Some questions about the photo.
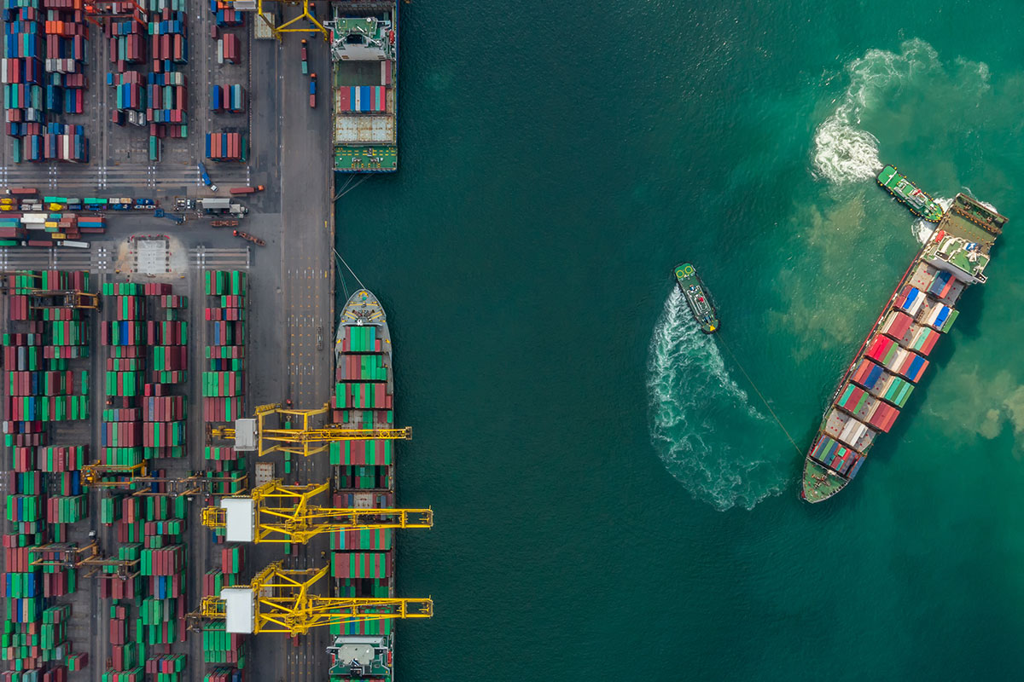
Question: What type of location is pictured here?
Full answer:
This looks like a port.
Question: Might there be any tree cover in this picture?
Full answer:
No, there is no tree cover in the image.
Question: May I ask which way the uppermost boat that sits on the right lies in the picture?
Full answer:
From this overhead view, the uppermost boat that sits on the right appears to run on a diagonal.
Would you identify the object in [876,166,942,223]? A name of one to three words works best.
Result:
boat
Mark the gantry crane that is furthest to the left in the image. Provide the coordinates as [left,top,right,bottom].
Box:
[0,270,42,294]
